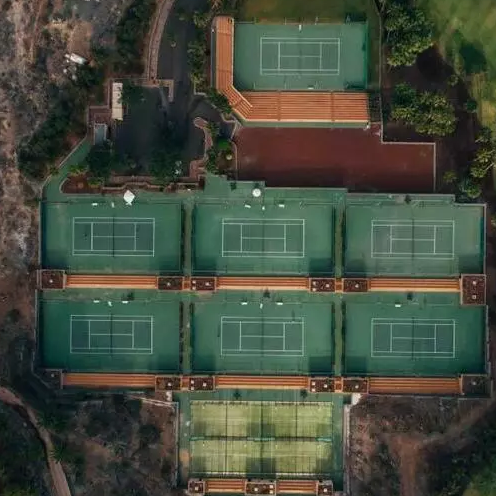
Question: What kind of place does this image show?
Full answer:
This image shows a sports ground.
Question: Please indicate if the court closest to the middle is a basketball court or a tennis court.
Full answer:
It looks like the court closest to the middle is a tennis court.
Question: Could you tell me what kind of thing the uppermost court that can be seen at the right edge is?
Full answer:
The uppermost court that can be seen at the right edge is a tennis court.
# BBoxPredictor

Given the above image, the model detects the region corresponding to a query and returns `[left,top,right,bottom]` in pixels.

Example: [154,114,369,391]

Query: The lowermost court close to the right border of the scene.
[345,304,483,377]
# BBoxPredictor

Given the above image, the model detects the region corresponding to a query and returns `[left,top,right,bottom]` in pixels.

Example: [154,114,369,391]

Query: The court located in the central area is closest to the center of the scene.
[194,203,335,275]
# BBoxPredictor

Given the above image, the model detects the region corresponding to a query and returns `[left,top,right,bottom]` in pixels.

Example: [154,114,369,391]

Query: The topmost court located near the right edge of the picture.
[346,204,480,276]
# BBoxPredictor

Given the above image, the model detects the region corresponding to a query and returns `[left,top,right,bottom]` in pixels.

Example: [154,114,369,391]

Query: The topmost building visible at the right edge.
[460,274,486,304]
